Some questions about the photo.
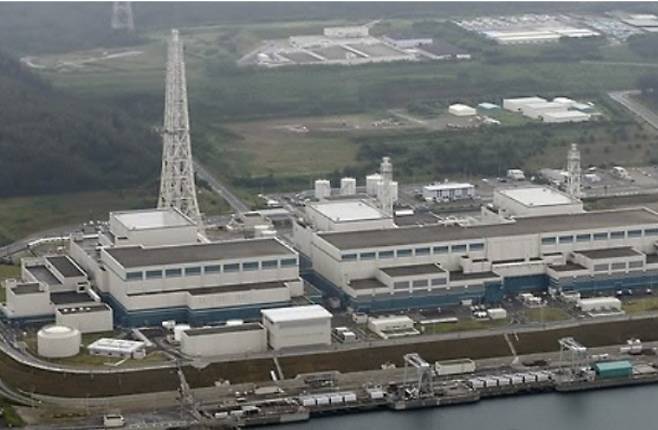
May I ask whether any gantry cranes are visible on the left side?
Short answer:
No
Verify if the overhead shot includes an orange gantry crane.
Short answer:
No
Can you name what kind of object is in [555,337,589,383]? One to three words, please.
container crane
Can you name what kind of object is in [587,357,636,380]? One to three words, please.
shed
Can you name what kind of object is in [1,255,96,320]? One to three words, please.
building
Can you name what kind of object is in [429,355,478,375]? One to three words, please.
house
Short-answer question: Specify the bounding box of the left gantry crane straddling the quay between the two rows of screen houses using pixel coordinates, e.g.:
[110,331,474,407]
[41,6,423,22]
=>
[402,352,434,400]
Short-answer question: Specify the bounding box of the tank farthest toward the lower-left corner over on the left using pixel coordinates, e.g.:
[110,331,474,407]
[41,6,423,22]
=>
[37,324,82,359]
